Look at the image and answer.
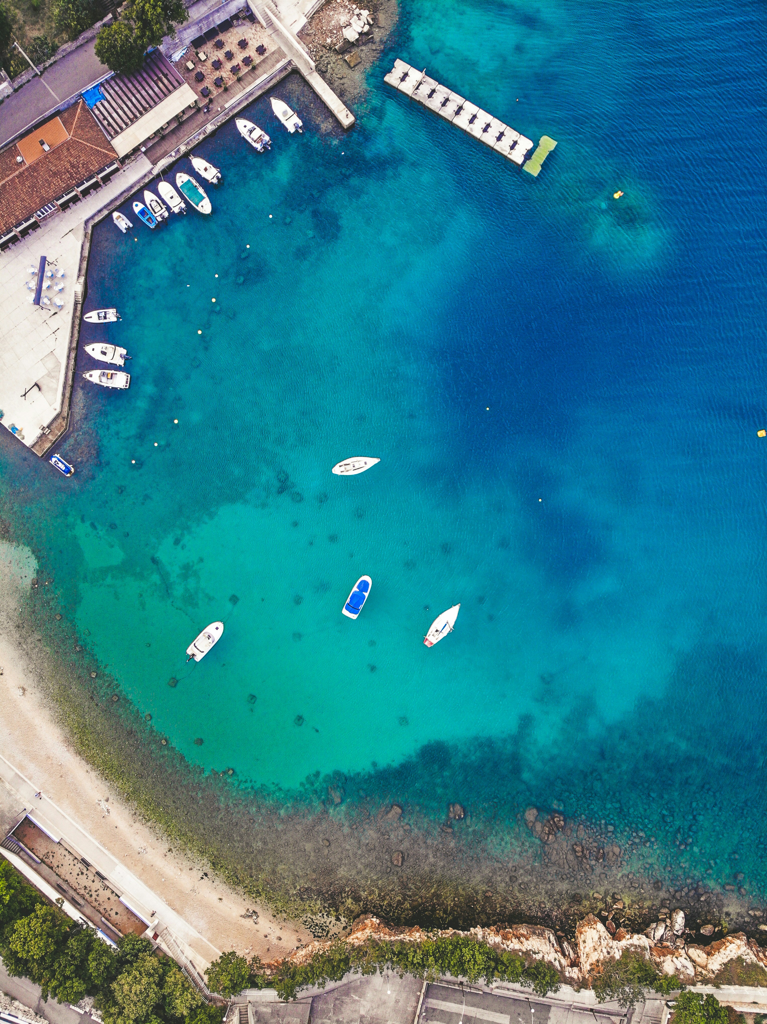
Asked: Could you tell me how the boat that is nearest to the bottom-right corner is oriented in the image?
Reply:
at an angle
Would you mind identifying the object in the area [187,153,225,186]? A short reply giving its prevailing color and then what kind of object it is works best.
white boat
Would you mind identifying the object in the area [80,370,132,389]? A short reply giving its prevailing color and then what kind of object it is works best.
white boat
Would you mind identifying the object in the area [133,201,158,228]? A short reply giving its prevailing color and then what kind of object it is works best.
blue boat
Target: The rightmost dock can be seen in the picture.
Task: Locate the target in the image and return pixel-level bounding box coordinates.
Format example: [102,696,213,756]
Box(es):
[385,60,532,165]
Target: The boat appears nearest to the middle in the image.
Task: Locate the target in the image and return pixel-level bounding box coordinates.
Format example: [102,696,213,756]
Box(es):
[332,457,379,477]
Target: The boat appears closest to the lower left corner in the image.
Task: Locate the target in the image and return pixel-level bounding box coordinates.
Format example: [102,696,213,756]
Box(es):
[186,622,223,662]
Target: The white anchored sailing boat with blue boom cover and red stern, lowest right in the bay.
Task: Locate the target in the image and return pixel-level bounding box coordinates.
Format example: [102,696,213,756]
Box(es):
[424,604,460,646]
